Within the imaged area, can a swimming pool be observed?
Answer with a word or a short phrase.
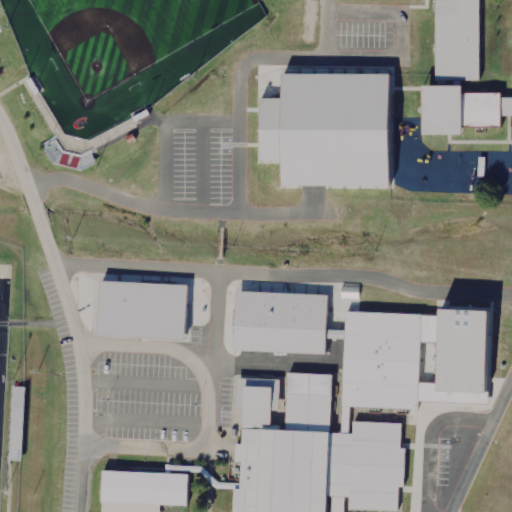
No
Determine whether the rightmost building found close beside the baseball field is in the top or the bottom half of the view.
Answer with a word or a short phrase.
top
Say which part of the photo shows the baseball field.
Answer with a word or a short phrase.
top left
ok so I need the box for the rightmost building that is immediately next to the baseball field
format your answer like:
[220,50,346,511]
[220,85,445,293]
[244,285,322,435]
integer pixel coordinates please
[280,74,392,189]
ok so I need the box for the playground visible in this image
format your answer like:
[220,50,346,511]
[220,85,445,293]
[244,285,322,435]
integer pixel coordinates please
[394,118,512,194]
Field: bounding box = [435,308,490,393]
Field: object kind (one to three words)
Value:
building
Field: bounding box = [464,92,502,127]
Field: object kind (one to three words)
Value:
house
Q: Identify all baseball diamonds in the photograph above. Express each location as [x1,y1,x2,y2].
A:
[0,0,266,140]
